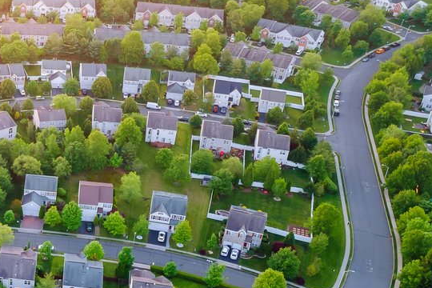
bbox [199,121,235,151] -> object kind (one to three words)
house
